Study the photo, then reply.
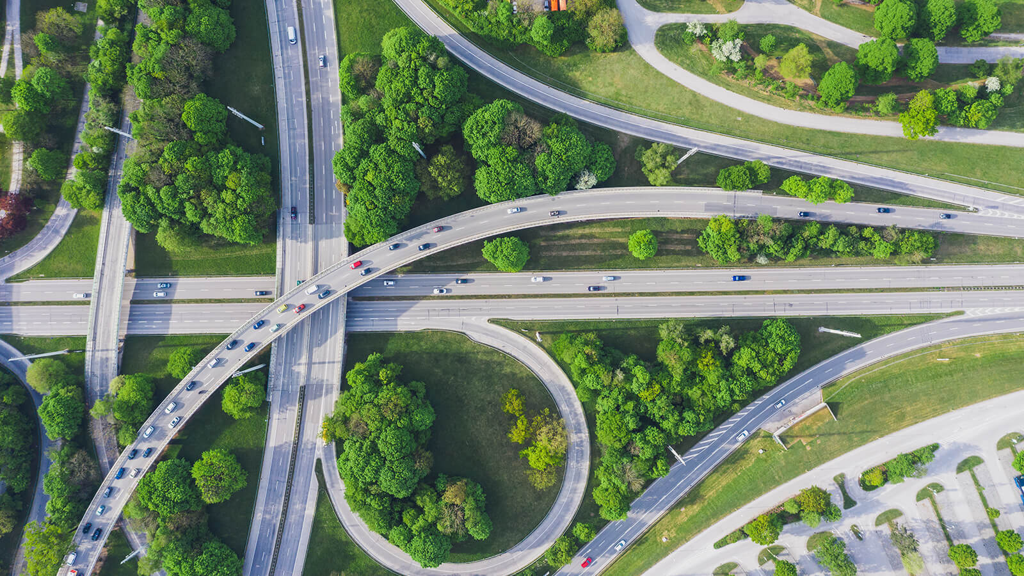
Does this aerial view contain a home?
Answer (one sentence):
No, the frame has no home in it.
